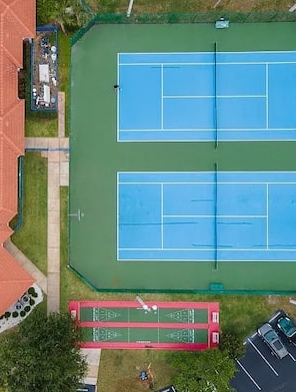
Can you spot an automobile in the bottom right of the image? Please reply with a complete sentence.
Yes, looking in the bottom right of the image, one can make out an automobile.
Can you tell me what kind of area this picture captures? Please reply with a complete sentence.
This image shows a sports ground.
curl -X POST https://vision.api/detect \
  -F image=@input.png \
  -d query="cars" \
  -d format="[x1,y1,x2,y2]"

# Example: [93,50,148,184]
[276,313,296,347]
[257,323,293,363]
